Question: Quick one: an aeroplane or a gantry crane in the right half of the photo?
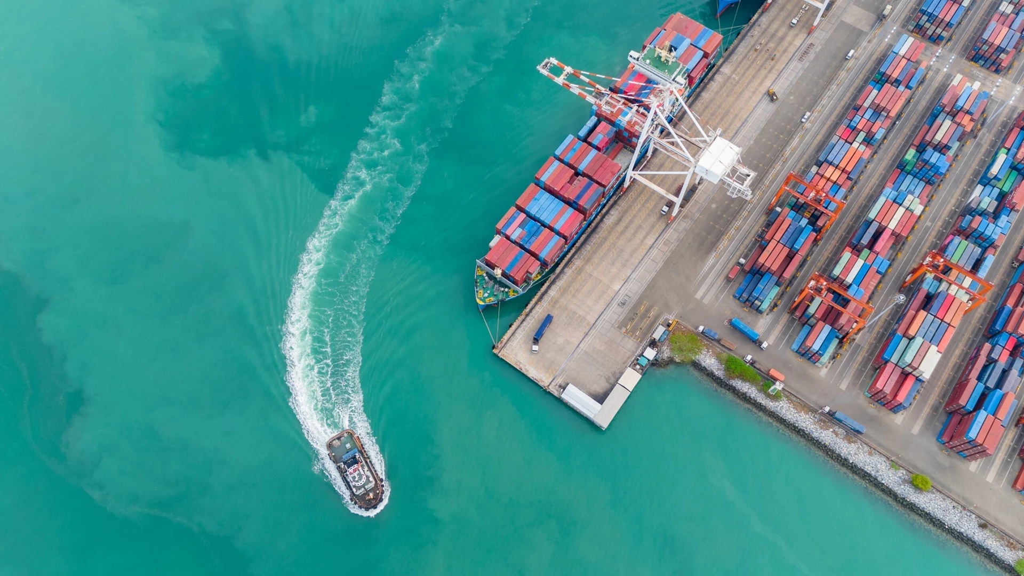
gantry crane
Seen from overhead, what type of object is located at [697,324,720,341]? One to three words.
vehicle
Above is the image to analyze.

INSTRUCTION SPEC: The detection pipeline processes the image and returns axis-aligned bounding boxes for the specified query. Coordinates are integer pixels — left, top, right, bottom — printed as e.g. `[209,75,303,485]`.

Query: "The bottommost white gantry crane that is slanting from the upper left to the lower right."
[535,53,761,229]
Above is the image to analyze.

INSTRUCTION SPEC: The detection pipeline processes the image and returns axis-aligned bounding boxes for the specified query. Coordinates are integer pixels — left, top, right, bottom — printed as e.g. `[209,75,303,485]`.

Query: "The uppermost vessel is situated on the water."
[714,0,749,20]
